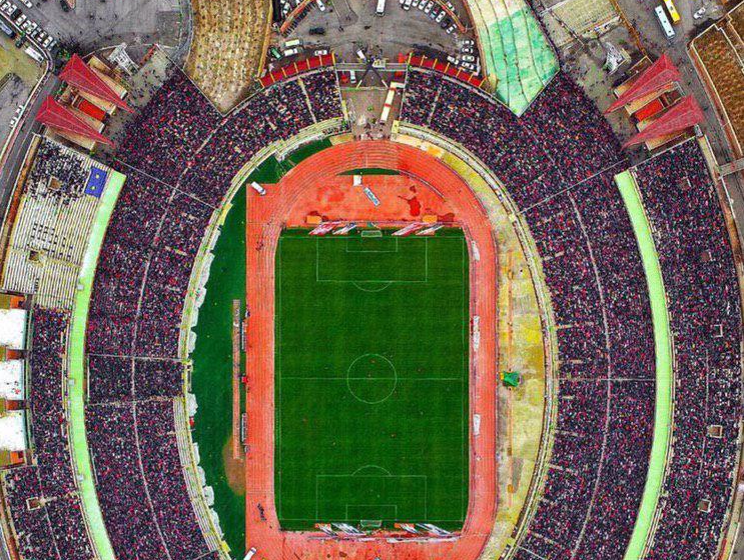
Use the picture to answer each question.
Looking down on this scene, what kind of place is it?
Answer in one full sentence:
This looks like a sports ground.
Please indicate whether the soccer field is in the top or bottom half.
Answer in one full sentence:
The soccer field is in the bottom half of the image.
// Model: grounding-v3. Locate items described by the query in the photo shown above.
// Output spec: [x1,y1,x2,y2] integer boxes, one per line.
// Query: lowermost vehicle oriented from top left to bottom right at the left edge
[21,44,44,61]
